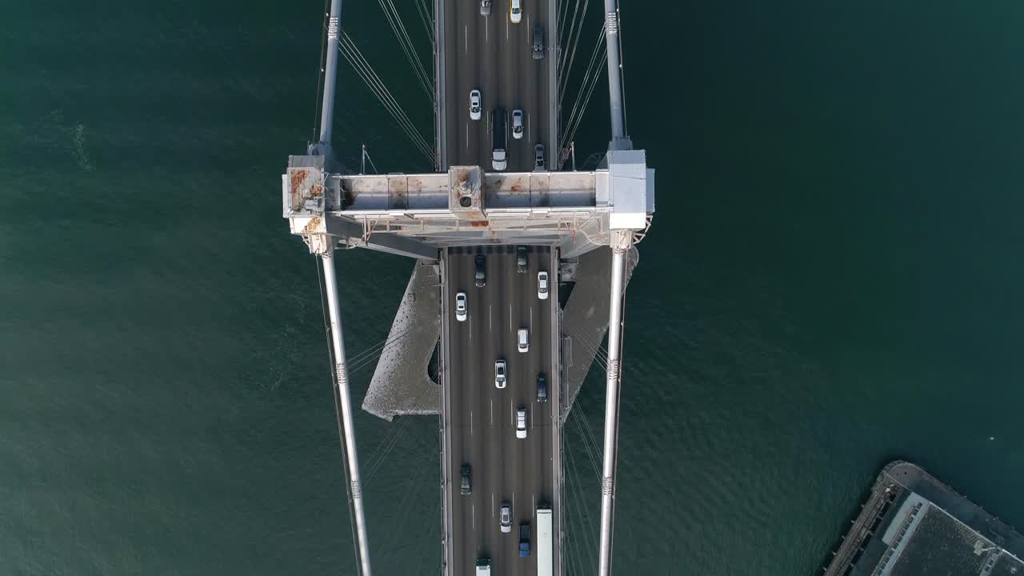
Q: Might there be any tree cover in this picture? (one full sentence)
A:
No, no tree cover is visible.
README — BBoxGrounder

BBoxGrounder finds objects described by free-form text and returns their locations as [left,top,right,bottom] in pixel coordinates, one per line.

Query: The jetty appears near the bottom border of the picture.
[812,455,1024,576]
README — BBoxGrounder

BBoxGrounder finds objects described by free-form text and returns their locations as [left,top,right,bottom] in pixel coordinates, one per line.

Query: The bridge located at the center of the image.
[283,0,654,576]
